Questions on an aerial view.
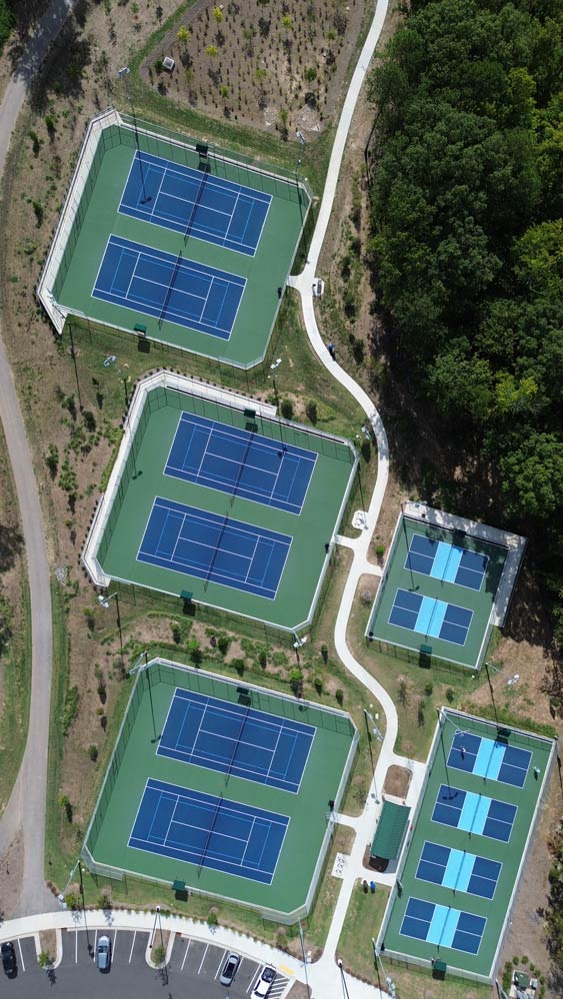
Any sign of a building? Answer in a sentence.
Yes, I can see a building in this picture.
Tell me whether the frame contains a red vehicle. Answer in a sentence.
No, I can see no red vehicle in this picture.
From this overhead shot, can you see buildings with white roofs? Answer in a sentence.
No, the picture doesn't show any building with a white roof.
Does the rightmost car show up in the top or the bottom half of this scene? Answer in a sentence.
The bottom half of the photo is where the rightmost car is.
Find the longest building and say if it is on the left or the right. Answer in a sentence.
The longest building sits on the right side.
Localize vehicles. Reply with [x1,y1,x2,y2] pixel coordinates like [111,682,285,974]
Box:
[253,965,274,999]
[2,942,18,974]
[96,935,110,968]
[221,952,239,984]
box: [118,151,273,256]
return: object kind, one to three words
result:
tennis court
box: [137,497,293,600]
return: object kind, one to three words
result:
tennis court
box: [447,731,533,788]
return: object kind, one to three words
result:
sports court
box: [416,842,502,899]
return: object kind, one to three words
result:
sports court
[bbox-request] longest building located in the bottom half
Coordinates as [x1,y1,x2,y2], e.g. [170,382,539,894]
[368,795,411,860]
